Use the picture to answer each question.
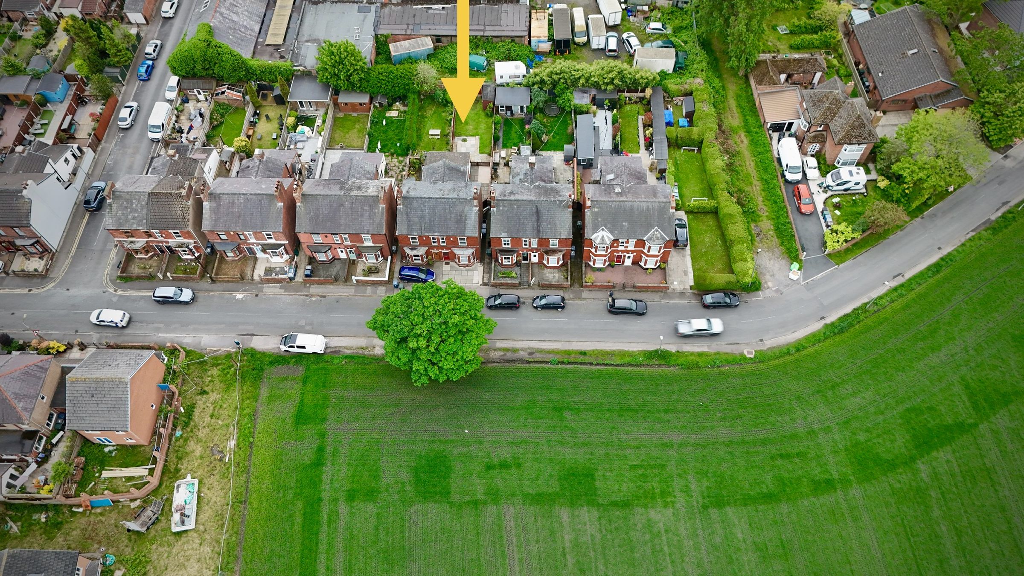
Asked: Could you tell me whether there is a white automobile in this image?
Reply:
Yes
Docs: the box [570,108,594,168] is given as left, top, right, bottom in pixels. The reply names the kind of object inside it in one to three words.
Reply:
shed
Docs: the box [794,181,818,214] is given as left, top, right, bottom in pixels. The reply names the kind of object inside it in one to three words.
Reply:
car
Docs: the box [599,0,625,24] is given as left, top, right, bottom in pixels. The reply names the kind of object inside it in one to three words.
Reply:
truck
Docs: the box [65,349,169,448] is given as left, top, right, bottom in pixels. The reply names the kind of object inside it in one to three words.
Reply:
house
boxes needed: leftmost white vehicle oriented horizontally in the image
[83,306,131,327]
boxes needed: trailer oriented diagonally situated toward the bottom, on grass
[118,485,167,539]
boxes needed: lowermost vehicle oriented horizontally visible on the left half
[275,329,328,354]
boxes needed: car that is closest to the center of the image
[485,290,521,310]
